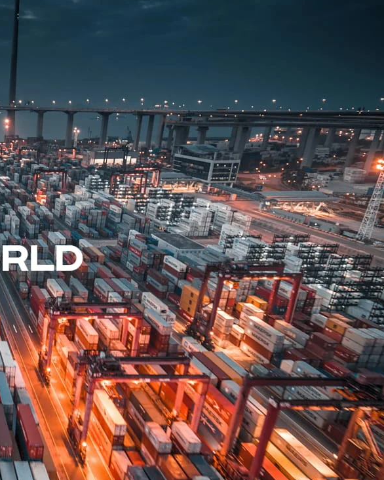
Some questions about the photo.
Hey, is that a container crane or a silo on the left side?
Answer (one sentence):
The one visible on the left side is a container crane.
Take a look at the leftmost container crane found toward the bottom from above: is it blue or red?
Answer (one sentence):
The color of the leftmost container crane found toward the bottom is red.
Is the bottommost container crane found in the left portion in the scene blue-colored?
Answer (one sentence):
No, the color of the bottommost container crane found in the left portion is red.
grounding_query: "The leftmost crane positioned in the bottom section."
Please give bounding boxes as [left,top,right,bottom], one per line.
[34,286,140,377]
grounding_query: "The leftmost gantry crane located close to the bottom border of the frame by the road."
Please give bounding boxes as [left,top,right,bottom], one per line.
[68,347,219,468]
